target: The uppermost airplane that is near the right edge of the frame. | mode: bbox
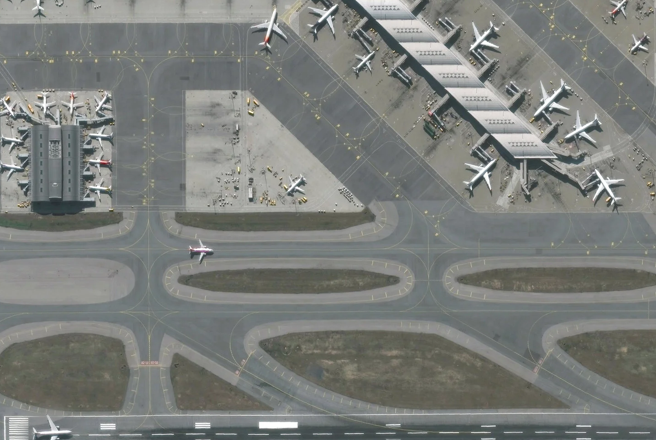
[607,0,627,18]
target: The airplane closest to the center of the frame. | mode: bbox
[287,173,307,194]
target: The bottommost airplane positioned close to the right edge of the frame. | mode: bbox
[594,169,627,206]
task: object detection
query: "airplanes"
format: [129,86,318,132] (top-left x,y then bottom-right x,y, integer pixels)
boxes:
[89,179,112,199]
[470,20,499,50]
[95,92,111,113]
[287,173,307,194]
[351,51,374,72]
[630,32,652,52]
[607,0,627,18]
[188,238,214,261]
[90,126,114,148]
[35,92,55,116]
[565,109,603,140]
[305,4,337,35]
[462,159,498,192]
[60,91,82,117]
[32,413,71,440]
[594,169,627,206]
[0,129,23,150]
[0,156,25,178]
[89,153,111,173]
[533,78,571,116]
[0,97,14,118]
[252,9,285,48]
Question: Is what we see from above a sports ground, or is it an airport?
airport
